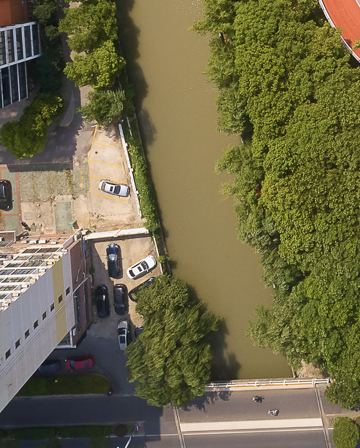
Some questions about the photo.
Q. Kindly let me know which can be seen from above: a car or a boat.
car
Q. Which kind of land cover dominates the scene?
trees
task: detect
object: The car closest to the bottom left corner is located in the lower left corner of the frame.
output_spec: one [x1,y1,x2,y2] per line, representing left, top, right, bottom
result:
[34,360,64,375]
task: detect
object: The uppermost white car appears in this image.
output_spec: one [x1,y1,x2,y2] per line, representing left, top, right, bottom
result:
[97,181,128,198]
